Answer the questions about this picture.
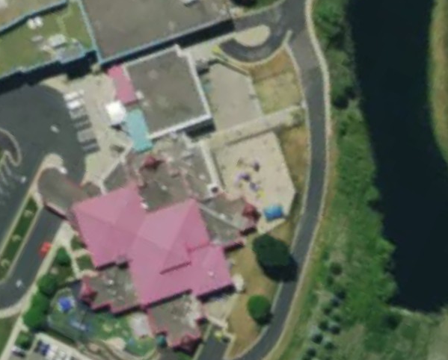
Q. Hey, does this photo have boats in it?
No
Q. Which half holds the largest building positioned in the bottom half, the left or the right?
left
